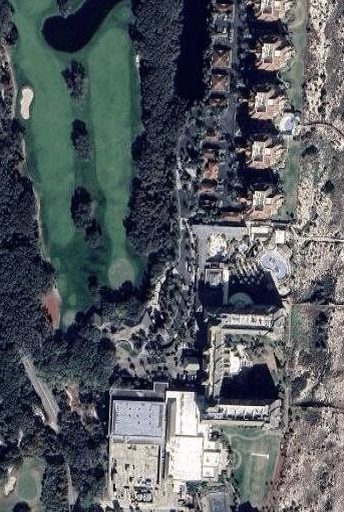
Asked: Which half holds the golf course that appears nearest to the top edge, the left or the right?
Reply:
left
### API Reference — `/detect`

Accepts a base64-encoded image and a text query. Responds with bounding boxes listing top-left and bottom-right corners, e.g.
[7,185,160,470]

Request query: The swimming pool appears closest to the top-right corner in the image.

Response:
[280,110,298,133]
